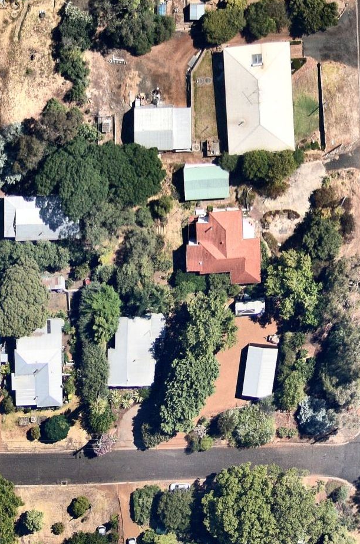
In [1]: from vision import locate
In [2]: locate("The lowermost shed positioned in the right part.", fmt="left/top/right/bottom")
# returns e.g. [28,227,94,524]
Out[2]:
[241,342,278,398]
